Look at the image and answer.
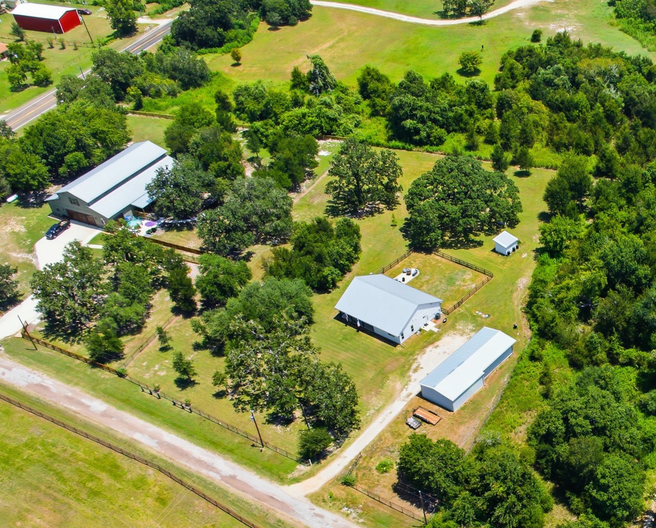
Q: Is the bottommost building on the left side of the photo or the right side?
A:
right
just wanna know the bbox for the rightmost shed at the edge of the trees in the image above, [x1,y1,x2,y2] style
[493,233,518,255]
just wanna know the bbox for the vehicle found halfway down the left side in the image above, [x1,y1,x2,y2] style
[44,220,70,236]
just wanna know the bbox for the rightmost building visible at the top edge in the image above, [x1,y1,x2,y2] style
[14,6,80,33]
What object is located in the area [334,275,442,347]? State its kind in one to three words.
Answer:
house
